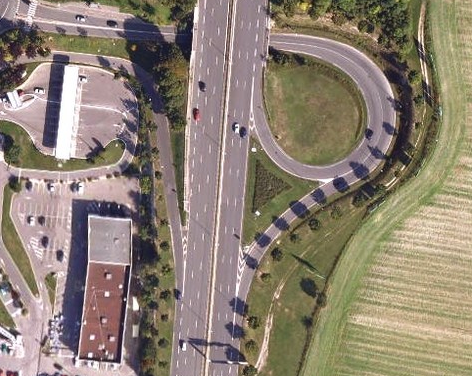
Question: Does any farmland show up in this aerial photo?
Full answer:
Yes, farmland can be seen from above here.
